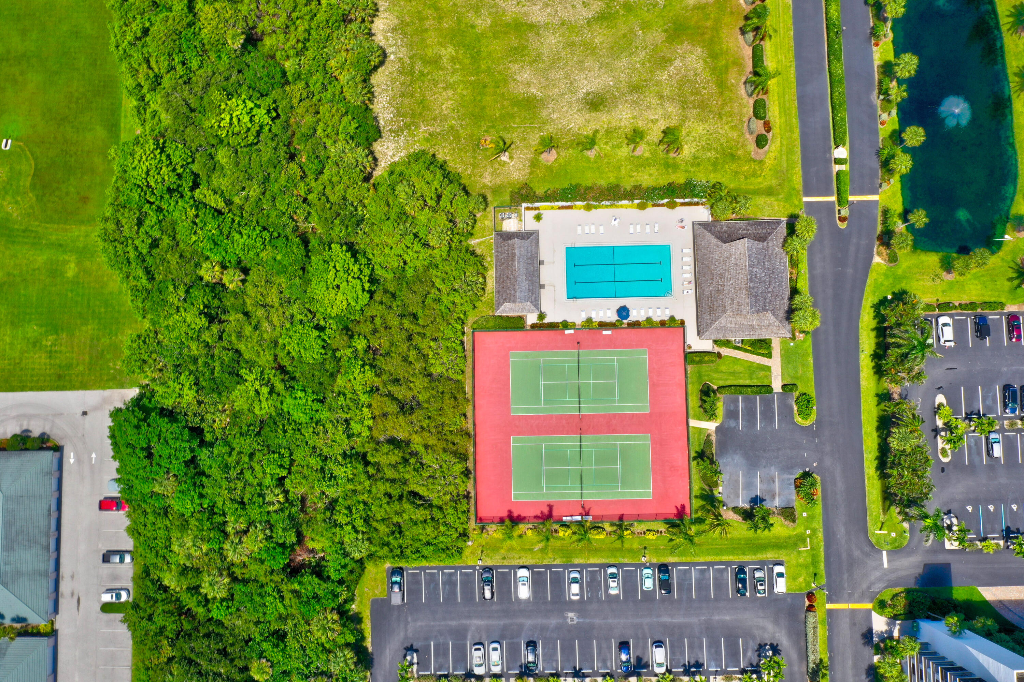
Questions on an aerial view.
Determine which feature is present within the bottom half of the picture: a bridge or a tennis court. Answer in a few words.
tennis court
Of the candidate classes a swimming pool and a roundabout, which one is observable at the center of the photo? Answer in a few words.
swimming pool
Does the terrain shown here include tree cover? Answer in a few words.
Yes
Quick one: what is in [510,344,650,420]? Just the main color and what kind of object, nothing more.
green tennis court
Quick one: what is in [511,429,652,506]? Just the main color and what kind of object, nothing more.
green tennis court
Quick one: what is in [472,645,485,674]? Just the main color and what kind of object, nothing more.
white vehicle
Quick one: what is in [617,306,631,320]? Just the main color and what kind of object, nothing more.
blue umbrella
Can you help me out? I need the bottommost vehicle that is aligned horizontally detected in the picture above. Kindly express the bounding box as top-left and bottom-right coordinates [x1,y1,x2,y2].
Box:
[101,589,131,604]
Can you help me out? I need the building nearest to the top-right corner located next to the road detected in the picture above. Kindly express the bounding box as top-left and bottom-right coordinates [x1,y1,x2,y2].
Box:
[694,220,791,339]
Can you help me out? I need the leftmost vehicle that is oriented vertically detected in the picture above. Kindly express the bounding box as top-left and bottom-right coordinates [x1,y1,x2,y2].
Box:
[390,569,404,605]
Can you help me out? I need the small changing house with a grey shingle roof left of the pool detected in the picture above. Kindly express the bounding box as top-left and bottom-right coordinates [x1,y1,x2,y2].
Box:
[493,230,540,315]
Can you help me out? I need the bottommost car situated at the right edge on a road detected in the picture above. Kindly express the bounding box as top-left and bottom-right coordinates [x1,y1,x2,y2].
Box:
[985,432,1001,458]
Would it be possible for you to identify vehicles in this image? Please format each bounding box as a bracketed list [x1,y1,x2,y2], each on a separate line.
[918,319,933,340]
[481,569,494,600]
[772,564,787,593]
[1019,384,1024,412]
[606,566,620,594]
[734,566,748,596]
[652,641,666,673]
[752,569,766,596]
[985,432,1001,458]
[642,568,654,591]
[107,479,136,491]
[936,316,953,344]
[101,589,131,604]
[618,642,632,672]
[489,642,503,671]
[973,315,990,340]
[1007,314,1022,342]
[99,499,130,512]
[658,564,671,595]
[525,642,539,673]
[1001,385,1018,413]
[102,551,133,565]
[568,571,582,600]
[390,569,404,605]
[472,645,485,674]
[517,567,530,599]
